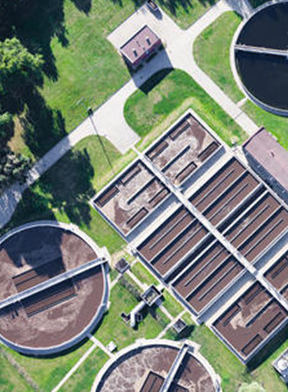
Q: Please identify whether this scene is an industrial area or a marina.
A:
industrial area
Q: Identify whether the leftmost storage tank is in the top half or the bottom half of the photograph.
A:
bottom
